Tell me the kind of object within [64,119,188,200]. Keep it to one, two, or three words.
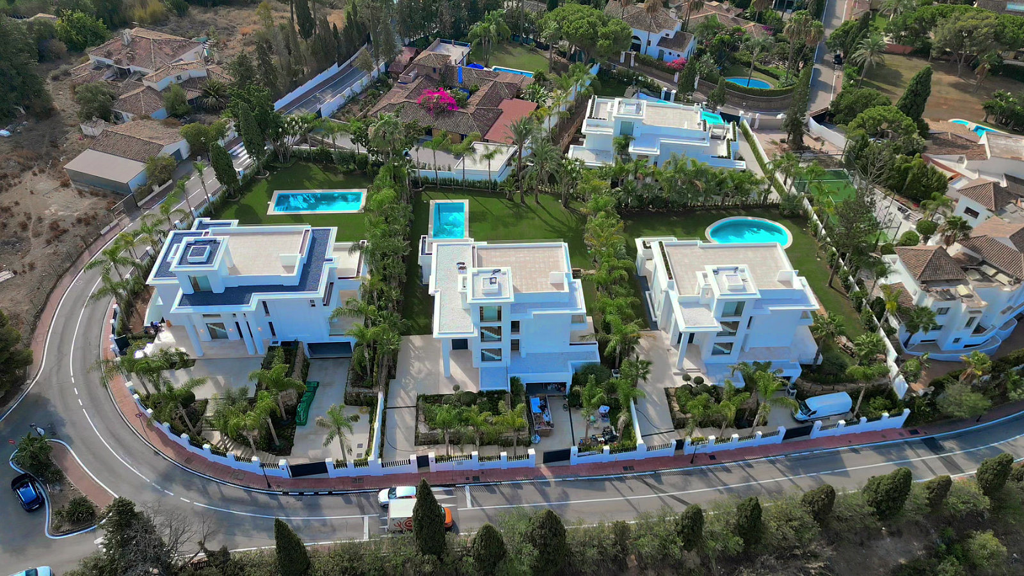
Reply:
shed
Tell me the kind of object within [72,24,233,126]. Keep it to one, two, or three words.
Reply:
house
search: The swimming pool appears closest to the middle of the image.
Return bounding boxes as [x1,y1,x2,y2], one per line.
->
[428,198,469,237]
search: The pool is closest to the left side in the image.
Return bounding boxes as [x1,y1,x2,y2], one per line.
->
[267,187,367,214]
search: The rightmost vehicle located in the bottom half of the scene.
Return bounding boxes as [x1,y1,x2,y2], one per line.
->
[795,393,860,424]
